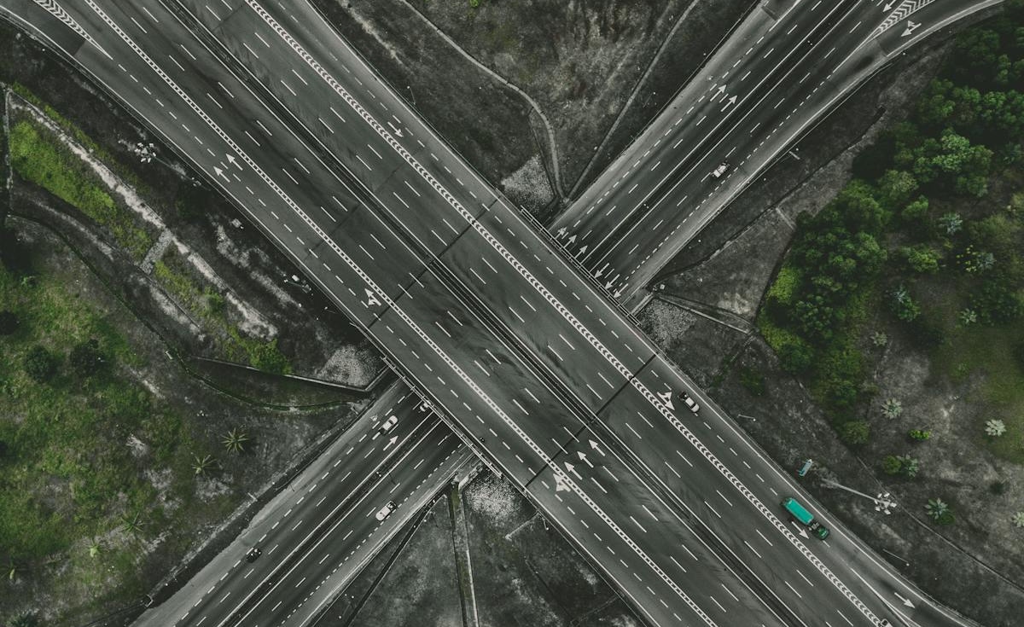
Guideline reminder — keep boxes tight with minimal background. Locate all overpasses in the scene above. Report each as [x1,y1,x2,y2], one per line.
[358,190,665,496]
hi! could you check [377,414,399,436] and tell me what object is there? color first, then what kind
white truck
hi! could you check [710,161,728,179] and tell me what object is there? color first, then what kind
white car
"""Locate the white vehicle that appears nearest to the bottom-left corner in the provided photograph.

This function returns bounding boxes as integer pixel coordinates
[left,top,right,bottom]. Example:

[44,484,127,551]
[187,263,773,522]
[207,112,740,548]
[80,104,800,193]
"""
[376,499,398,521]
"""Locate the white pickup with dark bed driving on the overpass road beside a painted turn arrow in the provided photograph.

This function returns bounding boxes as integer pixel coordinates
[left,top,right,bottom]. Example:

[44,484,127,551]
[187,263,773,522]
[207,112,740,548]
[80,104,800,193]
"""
[678,391,701,413]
